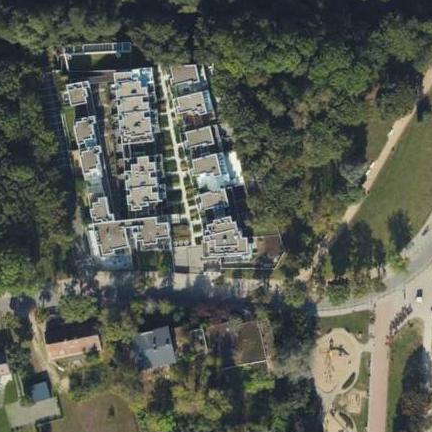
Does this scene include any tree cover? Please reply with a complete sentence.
Yes, tree cover can be seen from above here.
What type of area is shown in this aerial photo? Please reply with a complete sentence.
The area seen from above is a residential area.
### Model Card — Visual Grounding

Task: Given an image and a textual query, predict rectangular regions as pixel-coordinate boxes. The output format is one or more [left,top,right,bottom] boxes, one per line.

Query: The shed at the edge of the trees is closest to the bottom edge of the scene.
[32,381,53,402]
